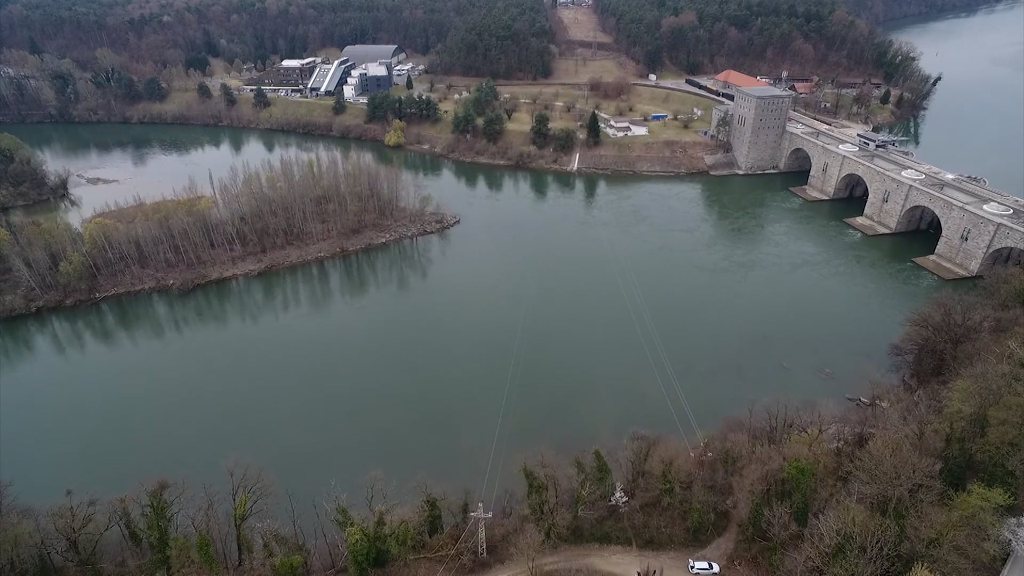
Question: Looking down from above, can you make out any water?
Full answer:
Yes, there's water in this view.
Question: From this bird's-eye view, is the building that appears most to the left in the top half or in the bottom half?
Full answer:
The top half of the photo is where the building that appears most to the left is.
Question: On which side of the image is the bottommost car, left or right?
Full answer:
The bottommost car appears in the right half of the scene.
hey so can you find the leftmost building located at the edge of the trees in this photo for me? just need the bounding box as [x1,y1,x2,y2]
[226,58,326,98]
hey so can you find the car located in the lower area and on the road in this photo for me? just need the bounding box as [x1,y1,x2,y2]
[686,556,721,576]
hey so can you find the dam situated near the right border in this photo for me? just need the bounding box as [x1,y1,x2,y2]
[782,108,1024,276]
